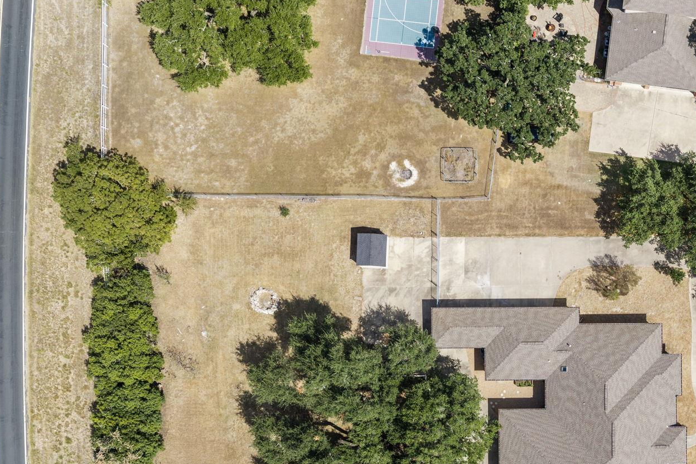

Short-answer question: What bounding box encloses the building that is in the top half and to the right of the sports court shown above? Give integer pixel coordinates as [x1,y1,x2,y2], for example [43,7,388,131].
[603,0,696,96]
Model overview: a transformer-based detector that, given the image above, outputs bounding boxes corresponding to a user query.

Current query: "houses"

[431,307,687,464]
[603,0,696,96]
